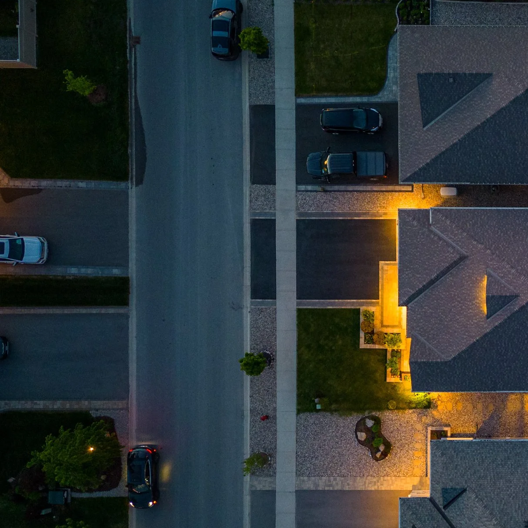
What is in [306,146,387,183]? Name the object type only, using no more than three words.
truck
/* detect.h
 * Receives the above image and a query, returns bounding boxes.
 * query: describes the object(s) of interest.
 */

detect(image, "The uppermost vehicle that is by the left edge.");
[0,234,46,267]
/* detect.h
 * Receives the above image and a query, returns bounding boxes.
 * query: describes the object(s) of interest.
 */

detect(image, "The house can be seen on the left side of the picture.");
[0,0,36,70]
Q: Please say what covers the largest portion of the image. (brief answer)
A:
paved ground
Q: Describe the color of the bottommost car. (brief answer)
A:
black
